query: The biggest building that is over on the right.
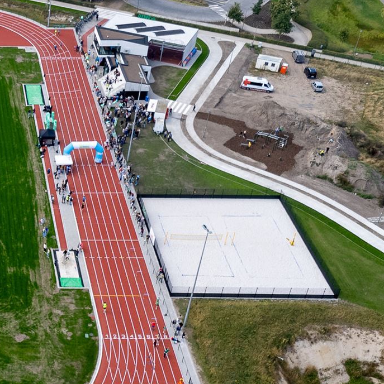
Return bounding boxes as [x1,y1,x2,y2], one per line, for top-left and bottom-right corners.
[255,55,283,72]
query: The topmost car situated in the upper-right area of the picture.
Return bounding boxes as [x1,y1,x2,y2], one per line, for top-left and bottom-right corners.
[293,50,305,62]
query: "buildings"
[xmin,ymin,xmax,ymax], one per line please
[255,55,283,72]
[94,13,197,99]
